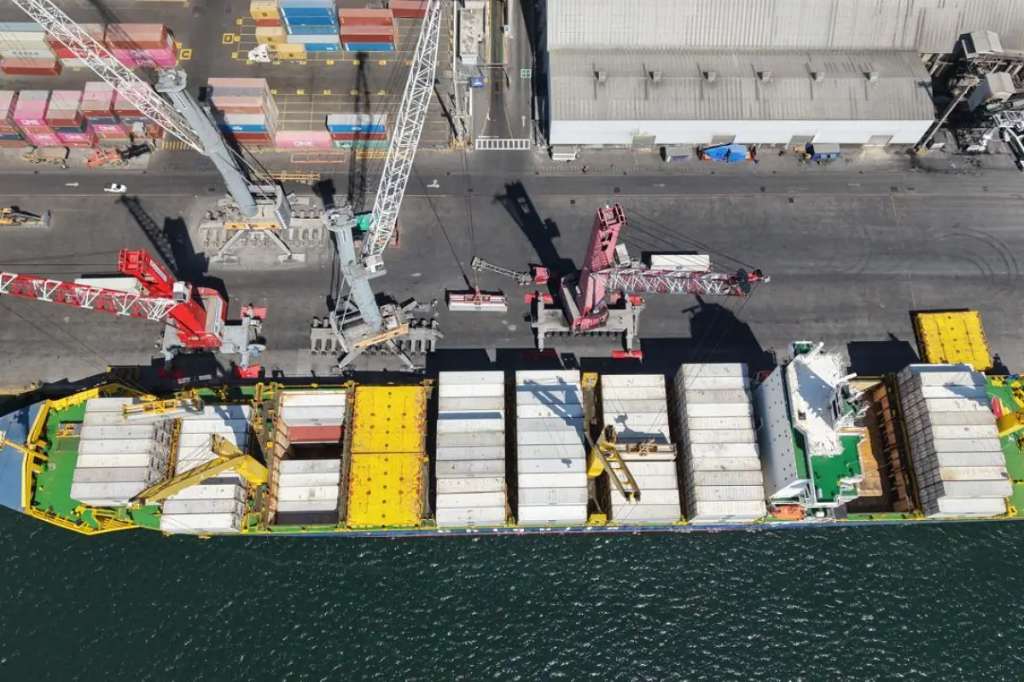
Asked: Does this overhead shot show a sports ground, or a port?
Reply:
port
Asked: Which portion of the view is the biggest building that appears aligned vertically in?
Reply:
top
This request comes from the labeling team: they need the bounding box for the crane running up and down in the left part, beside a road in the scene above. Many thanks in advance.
[309,0,478,378]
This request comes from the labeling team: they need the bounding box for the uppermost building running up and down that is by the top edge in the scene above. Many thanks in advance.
[459,7,483,64]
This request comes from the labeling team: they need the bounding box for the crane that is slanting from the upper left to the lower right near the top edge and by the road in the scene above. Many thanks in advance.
[16,0,320,266]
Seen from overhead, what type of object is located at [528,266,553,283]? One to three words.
work vehicle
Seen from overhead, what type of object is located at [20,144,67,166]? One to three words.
work vehicle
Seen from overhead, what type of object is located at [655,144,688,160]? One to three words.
vehicle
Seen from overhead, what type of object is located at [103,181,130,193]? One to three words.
vehicle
